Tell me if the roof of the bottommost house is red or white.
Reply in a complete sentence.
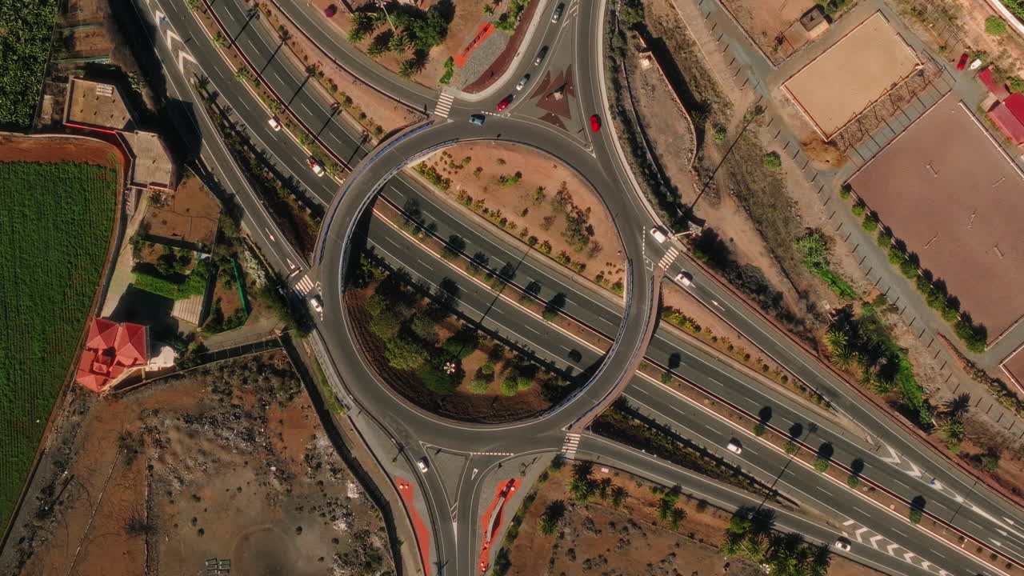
From above, the roof of the bottommost house appears red.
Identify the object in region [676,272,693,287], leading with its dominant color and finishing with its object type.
white car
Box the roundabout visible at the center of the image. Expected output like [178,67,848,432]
[297,96,680,453]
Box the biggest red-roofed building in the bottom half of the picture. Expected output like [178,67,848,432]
[76,318,158,395]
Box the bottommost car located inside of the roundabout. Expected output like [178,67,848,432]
[310,296,323,313]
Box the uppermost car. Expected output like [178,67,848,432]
[551,1,565,23]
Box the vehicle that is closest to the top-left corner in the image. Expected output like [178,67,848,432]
[266,116,281,131]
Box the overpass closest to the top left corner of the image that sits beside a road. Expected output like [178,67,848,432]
[311,119,441,284]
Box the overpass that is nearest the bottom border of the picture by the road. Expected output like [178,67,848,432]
[563,242,660,430]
